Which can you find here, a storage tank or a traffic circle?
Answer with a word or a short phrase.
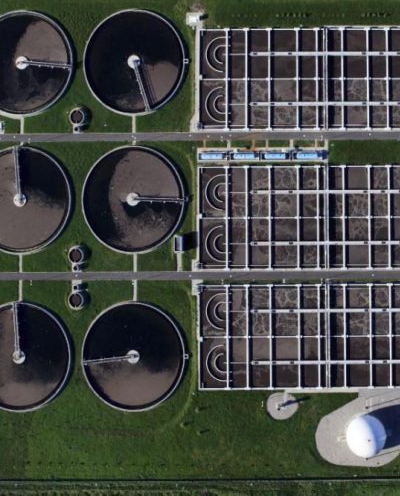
storage tank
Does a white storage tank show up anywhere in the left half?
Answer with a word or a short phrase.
No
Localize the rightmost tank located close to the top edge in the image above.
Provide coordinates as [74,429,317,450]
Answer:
[81,9,187,115]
